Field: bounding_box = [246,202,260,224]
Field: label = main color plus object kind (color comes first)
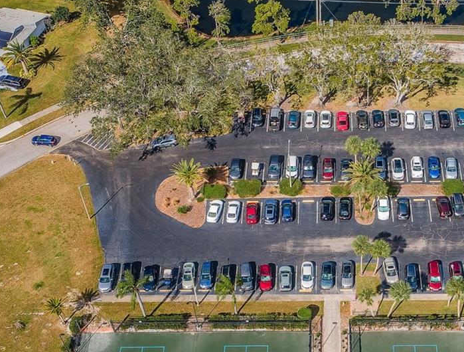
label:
red vehicle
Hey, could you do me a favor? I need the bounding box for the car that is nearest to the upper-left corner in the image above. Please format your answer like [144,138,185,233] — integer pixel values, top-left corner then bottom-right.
[1,75,27,89]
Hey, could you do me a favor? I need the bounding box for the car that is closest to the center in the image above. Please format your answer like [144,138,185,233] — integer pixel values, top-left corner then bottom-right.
[230,157,244,181]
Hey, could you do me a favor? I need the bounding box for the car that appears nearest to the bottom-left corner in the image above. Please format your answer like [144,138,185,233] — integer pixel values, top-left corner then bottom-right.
[98,264,115,292]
